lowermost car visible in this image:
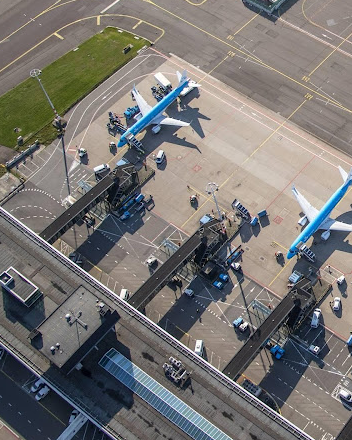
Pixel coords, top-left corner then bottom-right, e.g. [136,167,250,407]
[66,408,80,424]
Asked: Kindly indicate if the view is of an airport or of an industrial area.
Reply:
airport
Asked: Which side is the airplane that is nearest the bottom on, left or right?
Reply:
right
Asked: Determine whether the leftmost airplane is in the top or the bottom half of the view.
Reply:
top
